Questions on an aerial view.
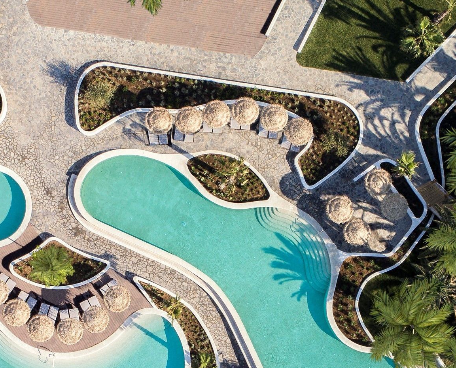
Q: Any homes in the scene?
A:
No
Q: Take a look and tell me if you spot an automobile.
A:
No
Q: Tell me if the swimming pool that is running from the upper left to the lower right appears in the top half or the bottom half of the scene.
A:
bottom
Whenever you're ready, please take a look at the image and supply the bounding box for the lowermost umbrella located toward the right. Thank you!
[343,219,368,245]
